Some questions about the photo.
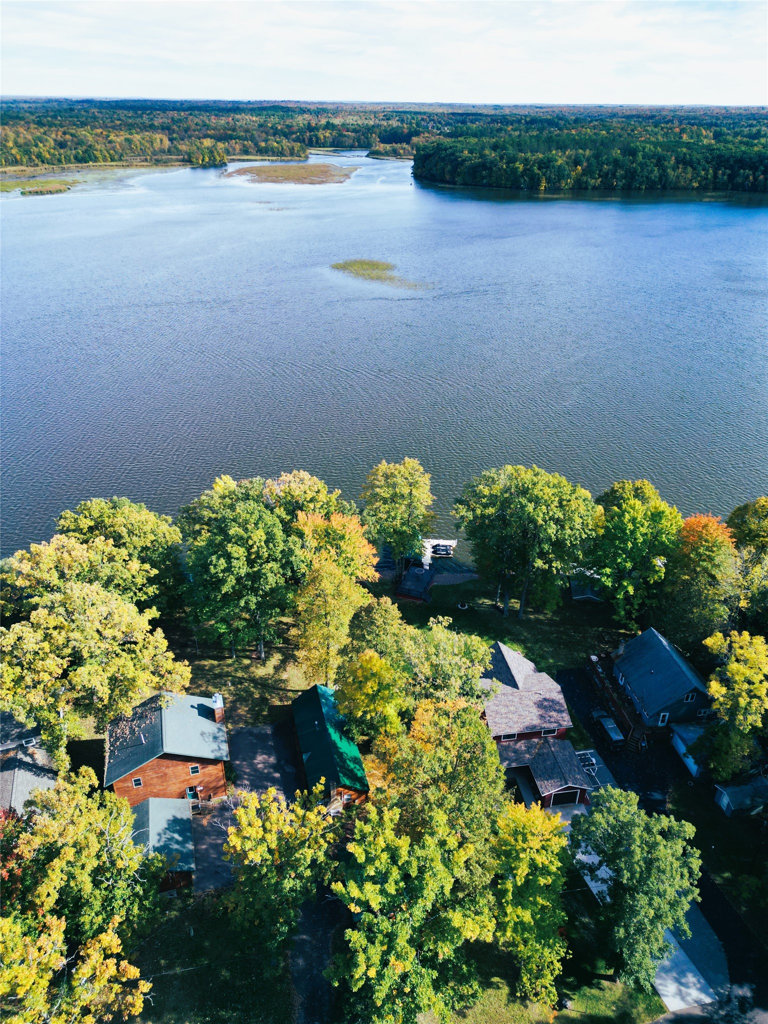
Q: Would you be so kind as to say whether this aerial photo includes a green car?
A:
No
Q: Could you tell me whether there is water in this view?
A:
Yes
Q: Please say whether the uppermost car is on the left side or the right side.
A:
right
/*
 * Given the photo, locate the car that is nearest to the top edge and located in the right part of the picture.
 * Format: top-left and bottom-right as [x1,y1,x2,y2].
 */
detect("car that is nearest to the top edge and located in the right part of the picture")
[593,708,626,745]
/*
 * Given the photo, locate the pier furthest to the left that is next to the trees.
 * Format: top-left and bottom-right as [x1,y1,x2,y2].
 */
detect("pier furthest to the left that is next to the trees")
[423,536,459,568]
